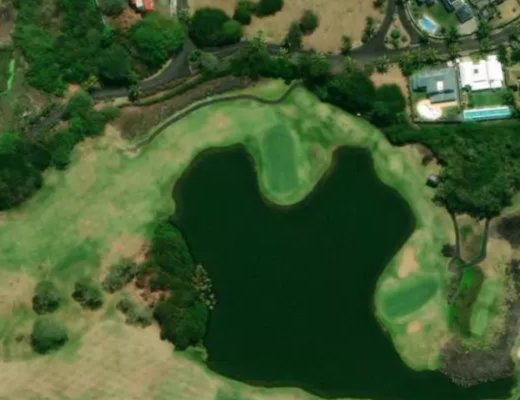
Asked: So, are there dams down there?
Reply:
No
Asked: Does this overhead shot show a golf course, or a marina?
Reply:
golf course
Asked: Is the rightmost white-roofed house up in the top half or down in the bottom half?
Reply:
top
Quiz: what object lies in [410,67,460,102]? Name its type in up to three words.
house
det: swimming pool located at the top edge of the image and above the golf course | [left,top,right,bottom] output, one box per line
[419,15,440,34]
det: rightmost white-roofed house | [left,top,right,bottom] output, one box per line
[460,54,504,90]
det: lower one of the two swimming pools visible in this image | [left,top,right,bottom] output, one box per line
[463,107,510,122]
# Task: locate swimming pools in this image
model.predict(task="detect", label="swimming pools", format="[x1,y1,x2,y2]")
[463,107,510,122]
[419,15,440,34]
